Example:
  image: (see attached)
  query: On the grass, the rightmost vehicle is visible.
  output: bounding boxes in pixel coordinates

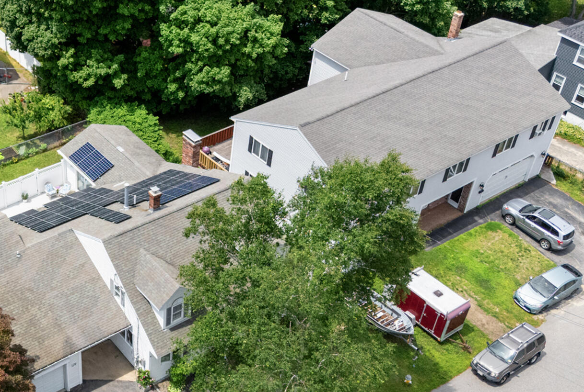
[513,263,584,312]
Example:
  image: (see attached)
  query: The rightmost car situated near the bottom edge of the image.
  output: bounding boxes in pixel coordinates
[468,319,552,386]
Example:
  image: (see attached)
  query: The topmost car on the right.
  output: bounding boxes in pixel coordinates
[504,204,583,254]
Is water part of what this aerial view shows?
No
